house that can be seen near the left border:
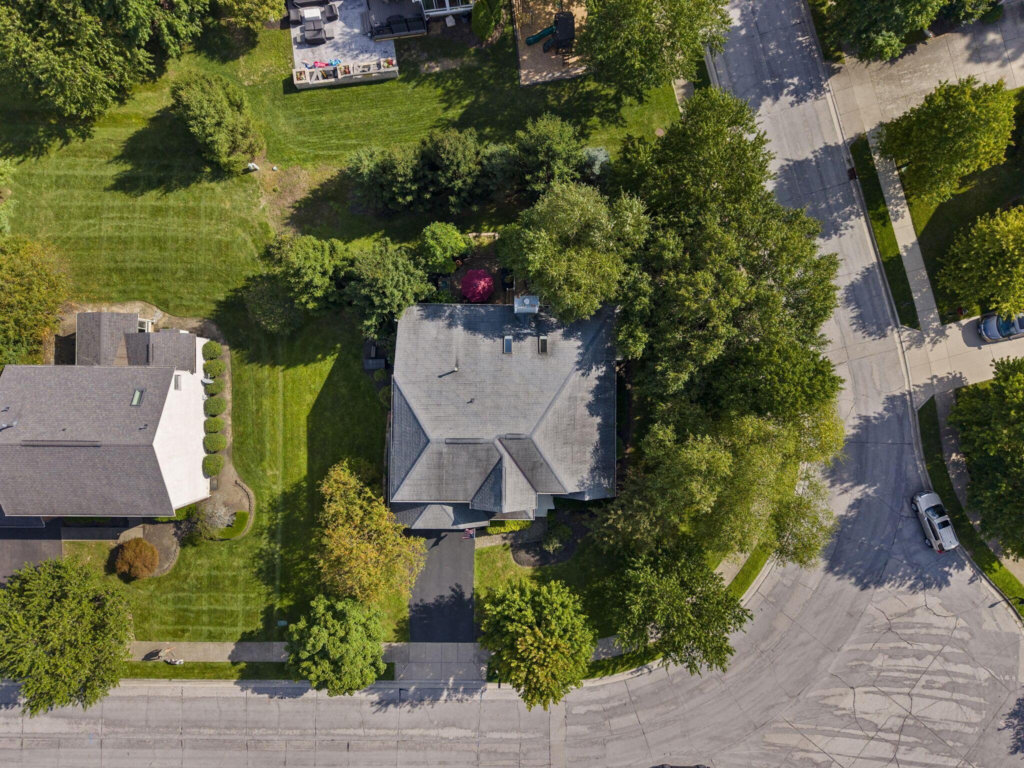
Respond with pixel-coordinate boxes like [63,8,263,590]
[0,312,216,529]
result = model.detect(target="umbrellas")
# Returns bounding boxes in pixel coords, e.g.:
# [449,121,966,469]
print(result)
[461,271,492,301]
